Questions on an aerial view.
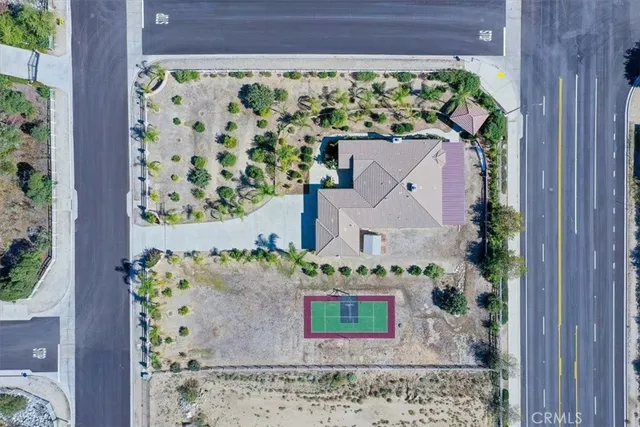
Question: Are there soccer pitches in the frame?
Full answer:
No, the photo shows no soccer pitch.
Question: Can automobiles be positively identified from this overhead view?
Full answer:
No, there appears to be no automobile in this shot.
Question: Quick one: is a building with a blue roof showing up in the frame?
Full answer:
No, no building with a blue roof is visible in the scene.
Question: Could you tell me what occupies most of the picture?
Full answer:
The bulk of the photo consists of paved ground.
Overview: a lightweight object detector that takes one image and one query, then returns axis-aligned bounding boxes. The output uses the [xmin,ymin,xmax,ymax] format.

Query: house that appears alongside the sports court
[315,138,464,256]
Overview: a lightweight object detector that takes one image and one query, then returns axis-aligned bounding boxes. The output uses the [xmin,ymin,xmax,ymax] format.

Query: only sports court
[304,296,395,338]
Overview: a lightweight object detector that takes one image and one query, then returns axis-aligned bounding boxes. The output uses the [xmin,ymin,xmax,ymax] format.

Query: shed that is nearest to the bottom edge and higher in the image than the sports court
[363,234,381,255]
